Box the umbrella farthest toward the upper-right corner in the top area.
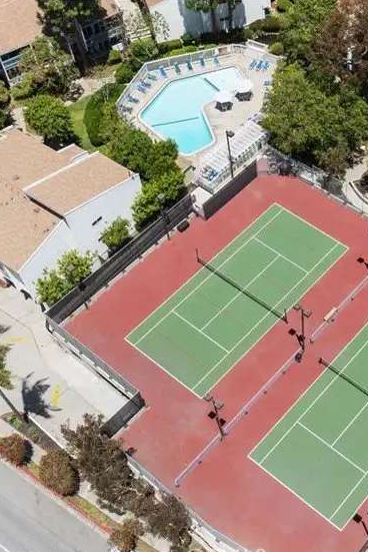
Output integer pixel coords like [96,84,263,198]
[231,77,254,91]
